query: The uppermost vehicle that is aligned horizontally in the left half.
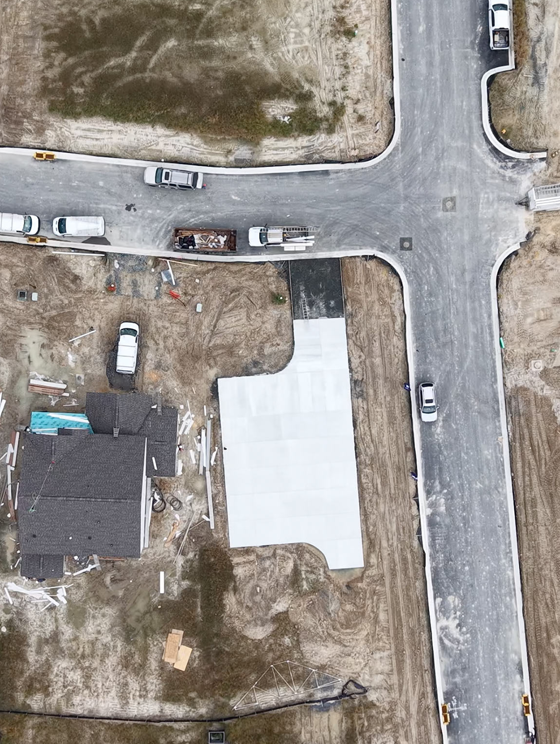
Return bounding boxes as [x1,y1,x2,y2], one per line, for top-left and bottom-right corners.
[144,165,204,191]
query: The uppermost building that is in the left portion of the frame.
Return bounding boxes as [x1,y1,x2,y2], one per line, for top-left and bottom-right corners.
[18,393,179,578]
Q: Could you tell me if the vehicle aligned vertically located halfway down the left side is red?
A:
No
